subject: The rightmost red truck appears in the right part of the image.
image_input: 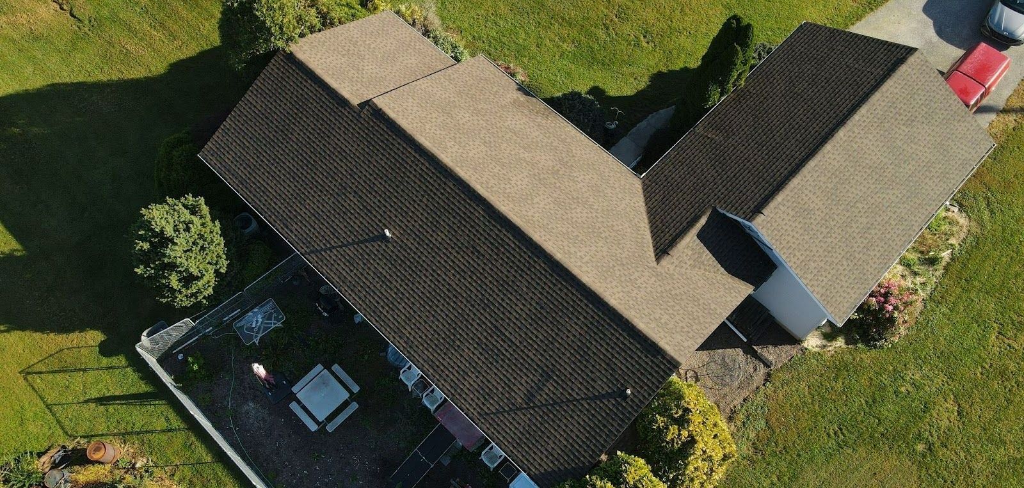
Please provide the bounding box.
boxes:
[942,43,1010,118]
